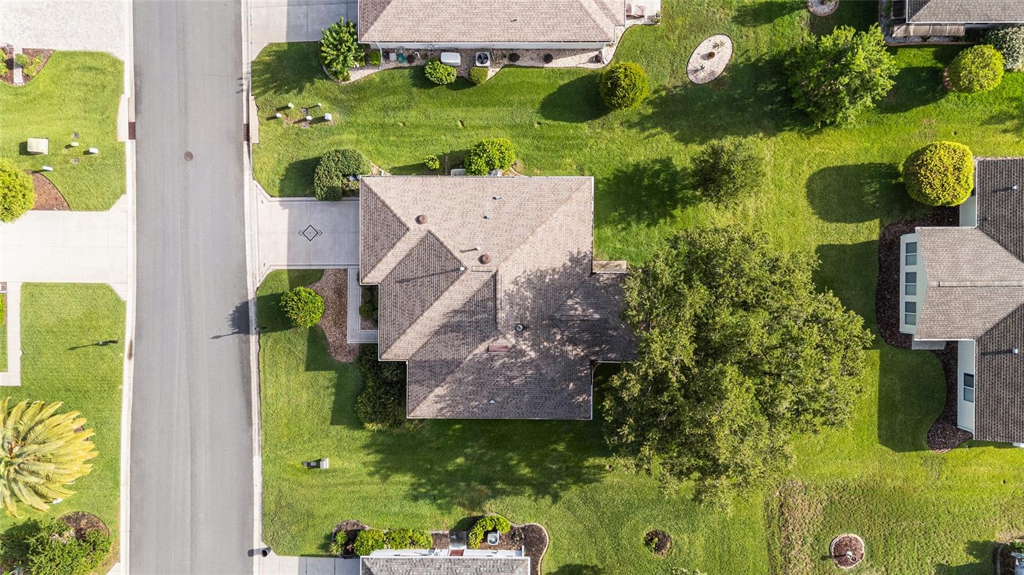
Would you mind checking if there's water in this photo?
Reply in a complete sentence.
No, there is no water in the image.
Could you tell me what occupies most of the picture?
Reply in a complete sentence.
What you mostly see from above here is grass.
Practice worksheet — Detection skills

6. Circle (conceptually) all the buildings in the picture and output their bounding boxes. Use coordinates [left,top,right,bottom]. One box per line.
[360,174,639,421]
[900,157,1024,444]
[359,543,530,575]
[877,0,1024,48]
[358,0,628,69]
